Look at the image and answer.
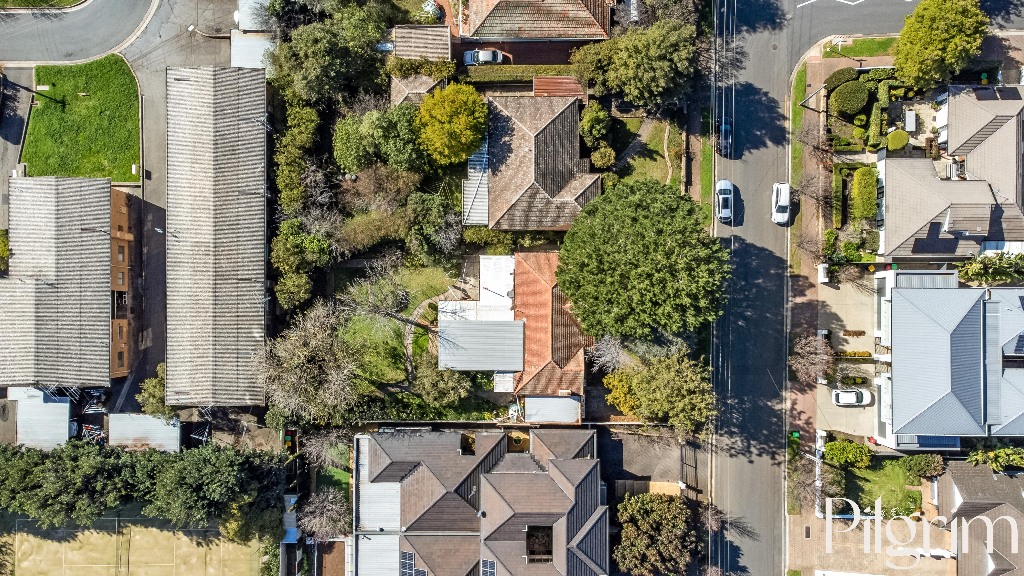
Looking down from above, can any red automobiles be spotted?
No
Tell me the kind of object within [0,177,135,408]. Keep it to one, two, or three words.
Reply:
building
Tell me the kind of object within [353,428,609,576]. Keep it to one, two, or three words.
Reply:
house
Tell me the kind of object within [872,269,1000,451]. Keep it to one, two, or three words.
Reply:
house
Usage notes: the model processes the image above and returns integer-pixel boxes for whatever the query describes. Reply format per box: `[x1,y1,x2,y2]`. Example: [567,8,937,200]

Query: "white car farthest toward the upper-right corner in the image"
[769,182,790,225]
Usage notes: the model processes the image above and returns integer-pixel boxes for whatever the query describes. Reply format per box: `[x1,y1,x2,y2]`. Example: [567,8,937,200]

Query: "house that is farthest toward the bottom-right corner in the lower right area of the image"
[929,459,1024,576]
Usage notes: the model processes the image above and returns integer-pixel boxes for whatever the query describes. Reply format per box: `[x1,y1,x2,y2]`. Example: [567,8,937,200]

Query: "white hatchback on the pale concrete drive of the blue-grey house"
[830,388,870,407]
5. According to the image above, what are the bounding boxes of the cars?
[463,48,503,66]
[715,117,735,159]
[769,182,790,225]
[830,388,870,407]
[714,180,734,224]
